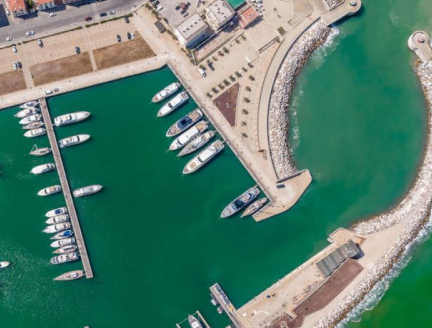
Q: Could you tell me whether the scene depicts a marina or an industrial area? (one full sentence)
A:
The picture captures a marina.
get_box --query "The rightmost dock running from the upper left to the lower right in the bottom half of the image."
[209,283,238,328]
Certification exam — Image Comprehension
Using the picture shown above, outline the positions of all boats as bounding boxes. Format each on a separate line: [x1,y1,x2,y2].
[19,101,38,109]
[30,162,60,173]
[37,184,66,195]
[53,270,84,280]
[221,187,262,217]
[42,222,77,233]
[50,230,73,240]
[23,126,52,137]
[19,113,42,123]
[166,108,204,136]
[53,134,91,148]
[240,198,267,218]
[50,251,85,262]
[177,130,216,156]
[21,119,45,129]
[67,185,103,198]
[183,140,227,173]
[188,315,202,328]
[29,147,50,155]
[13,107,37,116]
[170,120,210,150]
[156,91,190,116]
[45,214,75,223]
[152,80,181,102]
[52,245,77,253]
[45,207,68,217]
[51,112,91,126]
[50,237,81,247]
